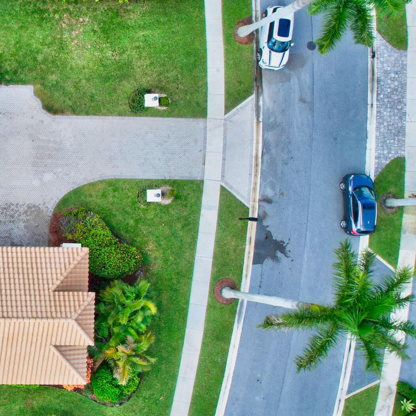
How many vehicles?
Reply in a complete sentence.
I count 2 vehicles.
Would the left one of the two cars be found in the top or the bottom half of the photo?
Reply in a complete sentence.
The left one of the two cars sits in the top half of the picture.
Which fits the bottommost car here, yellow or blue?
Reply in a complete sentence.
The color of the bottommost car is blue.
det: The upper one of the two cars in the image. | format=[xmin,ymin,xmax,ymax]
[259,3,298,68]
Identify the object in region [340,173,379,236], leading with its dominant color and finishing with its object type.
blue car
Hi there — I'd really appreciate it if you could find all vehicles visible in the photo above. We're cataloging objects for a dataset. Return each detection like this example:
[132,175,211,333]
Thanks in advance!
[340,173,379,236]
[259,3,298,68]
